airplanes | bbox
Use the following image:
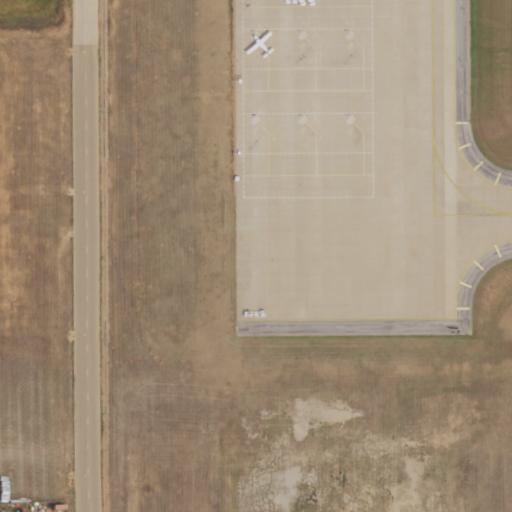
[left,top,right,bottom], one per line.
[246,30,274,58]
